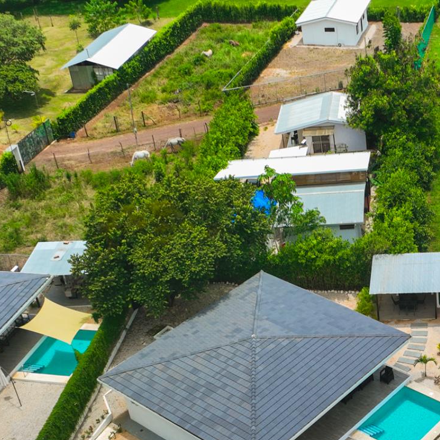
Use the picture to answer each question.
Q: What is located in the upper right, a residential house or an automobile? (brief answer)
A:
residential house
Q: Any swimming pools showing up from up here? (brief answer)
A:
Yes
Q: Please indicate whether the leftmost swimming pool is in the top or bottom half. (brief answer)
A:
bottom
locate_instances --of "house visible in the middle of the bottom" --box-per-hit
[98,270,413,440]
